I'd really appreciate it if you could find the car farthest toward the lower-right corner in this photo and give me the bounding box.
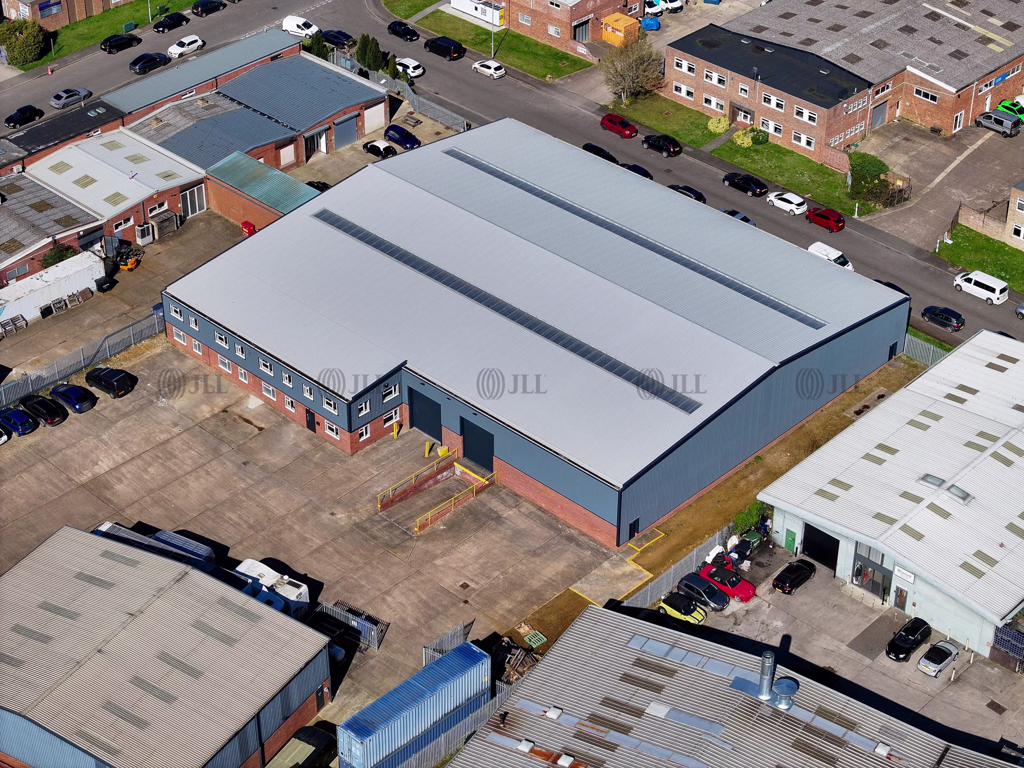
[917,642,959,678]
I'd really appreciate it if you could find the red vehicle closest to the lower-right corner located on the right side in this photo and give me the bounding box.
[716,562,759,603]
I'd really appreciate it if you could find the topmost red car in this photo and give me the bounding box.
[600,114,636,138]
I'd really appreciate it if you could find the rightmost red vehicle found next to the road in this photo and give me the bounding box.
[804,207,848,233]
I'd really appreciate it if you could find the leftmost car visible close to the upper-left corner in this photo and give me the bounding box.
[4,104,41,128]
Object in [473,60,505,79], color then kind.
white car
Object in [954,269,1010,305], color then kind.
white van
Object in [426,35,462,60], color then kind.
black vehicle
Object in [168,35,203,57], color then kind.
white car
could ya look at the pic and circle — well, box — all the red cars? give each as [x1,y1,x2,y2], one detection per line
[716,562,759,603]
[804,207,848,233]
[600,114,636,138]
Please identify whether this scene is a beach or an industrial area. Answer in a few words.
industrial area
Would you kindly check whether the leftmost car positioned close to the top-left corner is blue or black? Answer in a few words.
black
